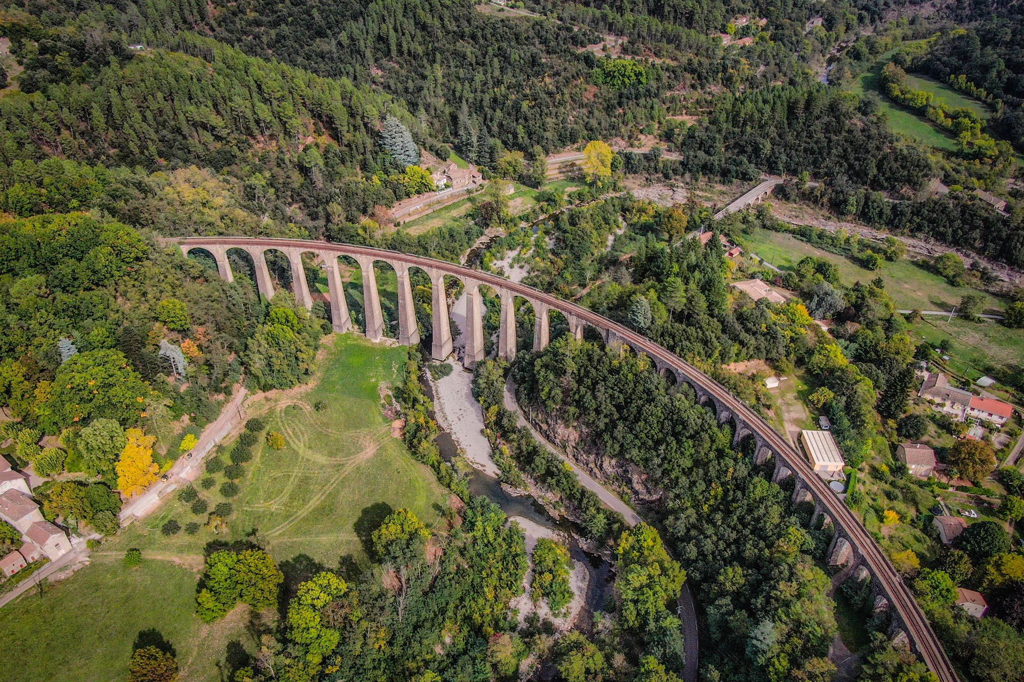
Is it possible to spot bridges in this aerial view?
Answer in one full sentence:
Yes, this view includes a bridge.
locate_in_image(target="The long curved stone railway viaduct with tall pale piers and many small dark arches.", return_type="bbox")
[159,238,963,682]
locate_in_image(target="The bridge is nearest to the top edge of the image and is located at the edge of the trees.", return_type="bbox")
[707,178,786,225]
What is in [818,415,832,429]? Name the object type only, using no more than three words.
vehicle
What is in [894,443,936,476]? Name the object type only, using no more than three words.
house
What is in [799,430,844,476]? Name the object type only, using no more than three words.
building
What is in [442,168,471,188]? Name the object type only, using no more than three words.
house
